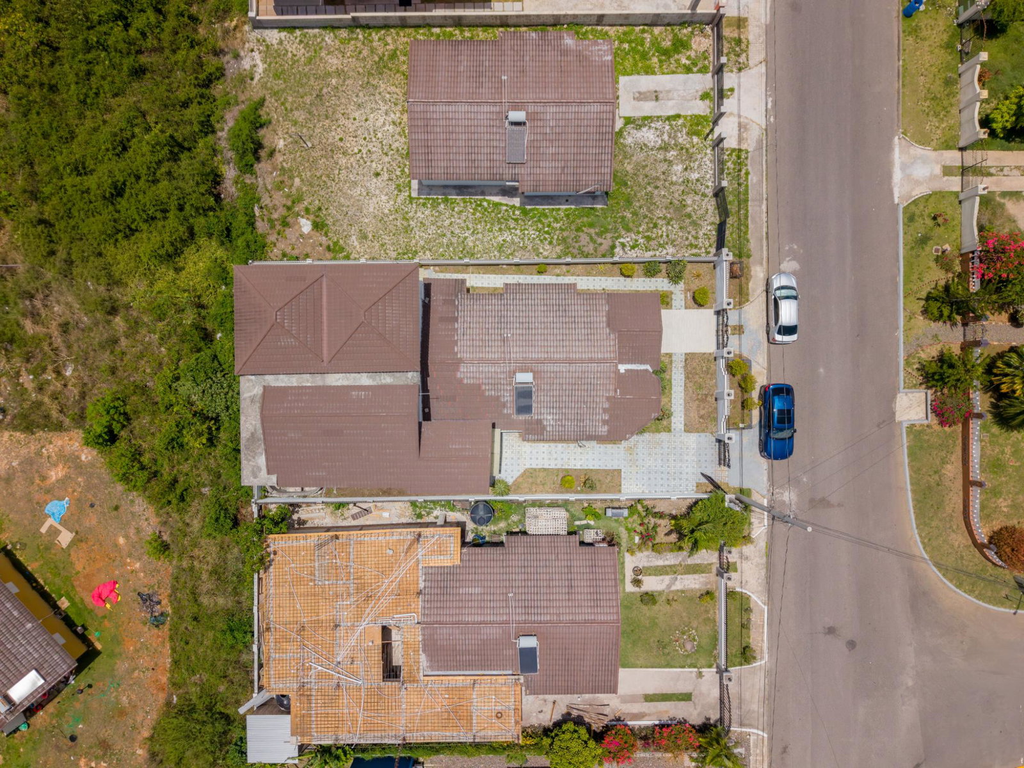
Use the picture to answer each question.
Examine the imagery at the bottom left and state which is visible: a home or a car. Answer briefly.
home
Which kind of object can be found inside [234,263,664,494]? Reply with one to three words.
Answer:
house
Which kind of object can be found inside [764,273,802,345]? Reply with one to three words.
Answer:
car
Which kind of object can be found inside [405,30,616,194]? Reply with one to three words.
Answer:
house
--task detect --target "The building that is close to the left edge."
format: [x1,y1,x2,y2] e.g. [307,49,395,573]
[0,544,92,738]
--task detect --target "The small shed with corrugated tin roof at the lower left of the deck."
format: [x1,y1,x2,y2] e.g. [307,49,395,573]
[247,702,304,763]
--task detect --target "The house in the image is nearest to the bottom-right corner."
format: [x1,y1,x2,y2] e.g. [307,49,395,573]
[415,533,623,696]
